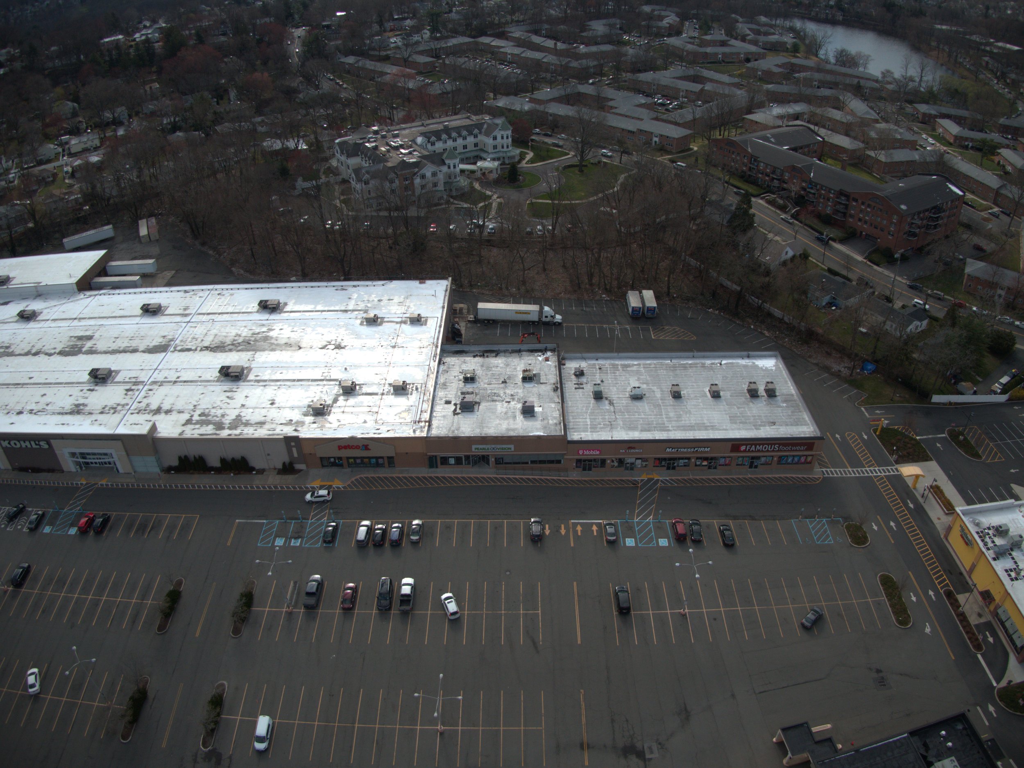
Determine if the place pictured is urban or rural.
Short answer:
urban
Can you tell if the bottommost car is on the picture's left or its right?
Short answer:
left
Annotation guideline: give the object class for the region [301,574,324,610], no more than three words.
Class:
truck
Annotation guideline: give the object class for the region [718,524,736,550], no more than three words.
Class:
car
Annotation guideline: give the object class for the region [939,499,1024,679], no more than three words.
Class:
building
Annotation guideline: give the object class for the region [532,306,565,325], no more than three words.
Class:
vehicle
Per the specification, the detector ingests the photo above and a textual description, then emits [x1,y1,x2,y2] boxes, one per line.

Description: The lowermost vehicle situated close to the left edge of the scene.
[22,664,45,700]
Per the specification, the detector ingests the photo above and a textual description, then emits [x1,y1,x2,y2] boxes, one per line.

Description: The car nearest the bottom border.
[250,711,275,756]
